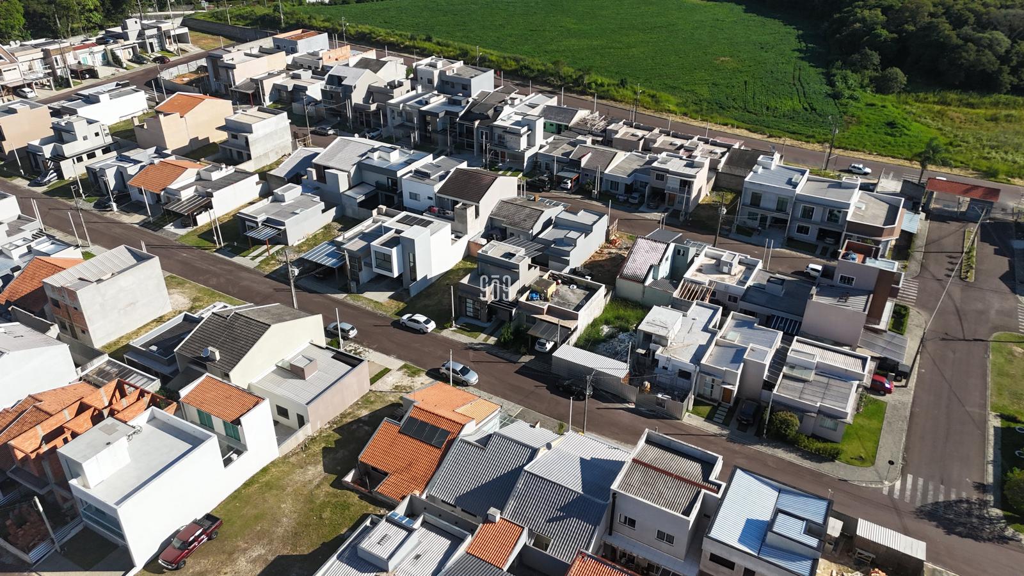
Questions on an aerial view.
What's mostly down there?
buildings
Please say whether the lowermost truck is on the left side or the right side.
left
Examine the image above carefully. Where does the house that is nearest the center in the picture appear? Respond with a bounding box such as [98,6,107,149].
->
[460,241,548,318]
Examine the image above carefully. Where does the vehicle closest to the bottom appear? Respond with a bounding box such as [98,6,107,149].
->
[156,510,222,566]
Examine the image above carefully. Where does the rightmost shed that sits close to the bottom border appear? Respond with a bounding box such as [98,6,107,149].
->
[851,519,928,576]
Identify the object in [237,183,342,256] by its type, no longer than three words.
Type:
house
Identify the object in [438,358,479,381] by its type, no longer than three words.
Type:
car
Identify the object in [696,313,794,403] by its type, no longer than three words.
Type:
house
